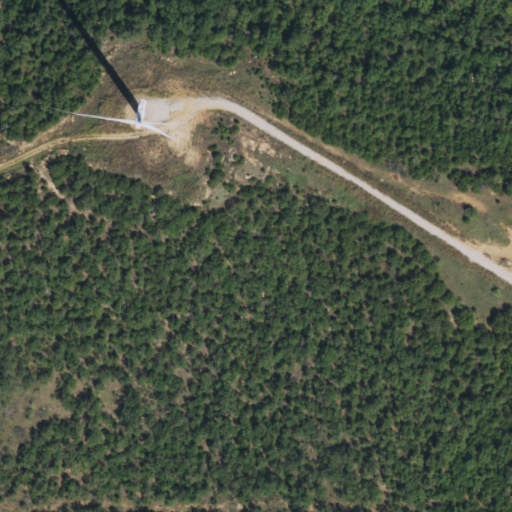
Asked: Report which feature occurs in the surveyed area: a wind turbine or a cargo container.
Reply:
wind turbine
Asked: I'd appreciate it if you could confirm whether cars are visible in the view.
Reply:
No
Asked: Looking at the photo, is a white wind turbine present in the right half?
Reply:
No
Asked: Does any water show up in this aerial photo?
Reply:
No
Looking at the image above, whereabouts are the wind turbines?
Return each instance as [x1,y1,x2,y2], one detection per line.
[54,98,183,140]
